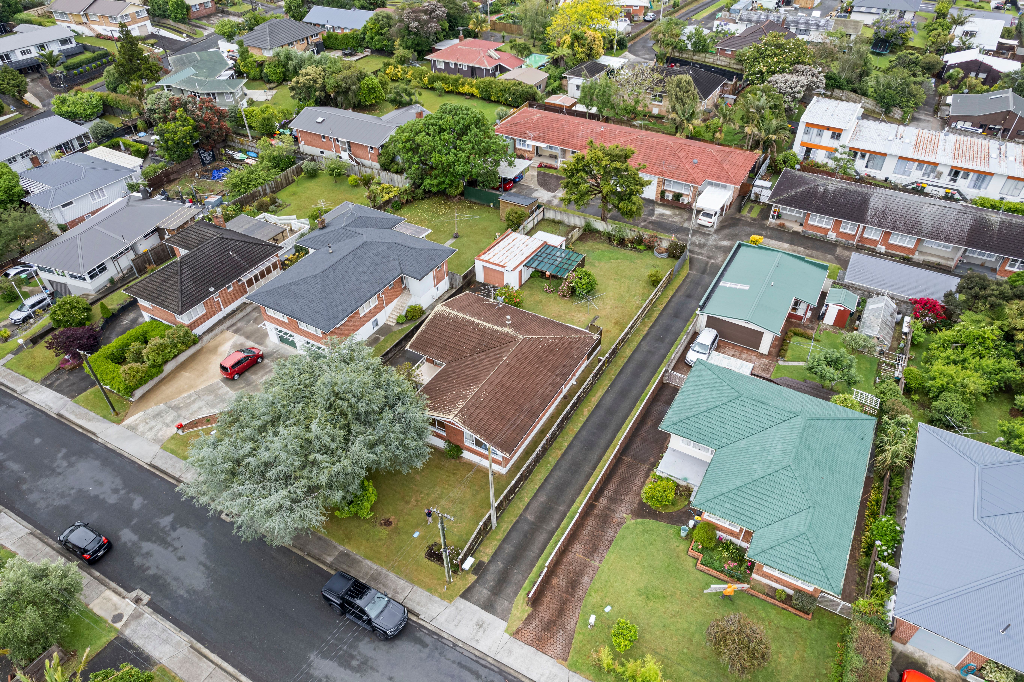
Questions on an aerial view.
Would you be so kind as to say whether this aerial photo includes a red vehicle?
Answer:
Yes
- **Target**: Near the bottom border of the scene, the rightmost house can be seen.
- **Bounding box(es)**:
[890,422,1024,682]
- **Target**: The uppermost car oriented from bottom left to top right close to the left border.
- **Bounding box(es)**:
[3,289,53,323]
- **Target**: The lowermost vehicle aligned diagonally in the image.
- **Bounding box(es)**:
[319,571,409,641]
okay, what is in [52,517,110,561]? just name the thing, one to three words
car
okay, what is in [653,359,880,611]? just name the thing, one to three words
house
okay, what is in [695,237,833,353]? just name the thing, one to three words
house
